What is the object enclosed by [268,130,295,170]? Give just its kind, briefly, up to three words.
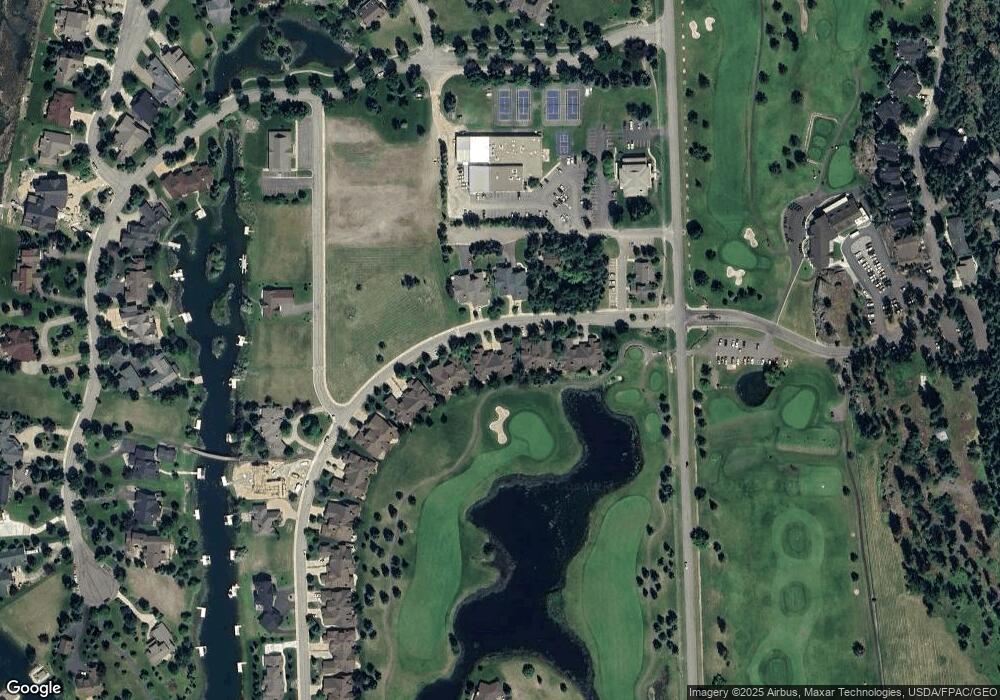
building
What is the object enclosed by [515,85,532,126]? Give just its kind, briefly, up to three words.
tennis court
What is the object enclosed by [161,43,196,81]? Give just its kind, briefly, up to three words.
house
